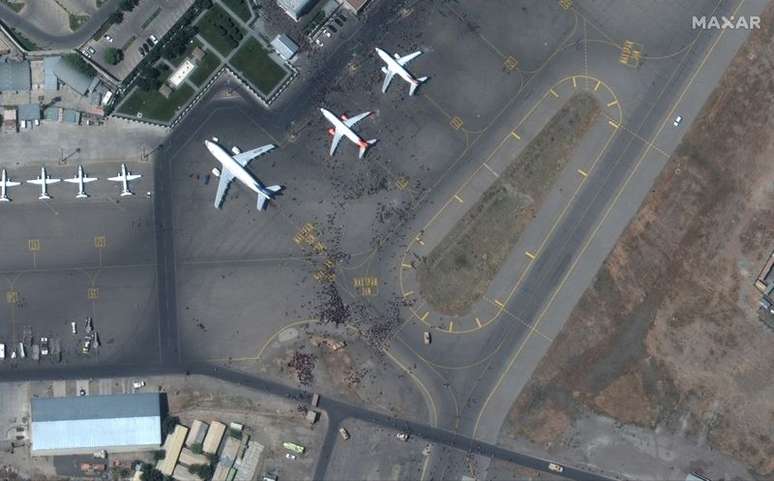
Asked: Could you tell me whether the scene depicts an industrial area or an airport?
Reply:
airport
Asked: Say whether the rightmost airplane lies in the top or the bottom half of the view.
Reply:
top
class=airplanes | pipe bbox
[27,168,60,197]
[205,140,284,210]
[321,109,376,155]
[375,48,429,95]
[64,166,98,195]
[0,169,21,199]
[107,163,141,194]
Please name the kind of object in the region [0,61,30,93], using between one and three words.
building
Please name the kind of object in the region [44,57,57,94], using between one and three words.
building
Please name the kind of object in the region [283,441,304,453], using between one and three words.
vehicle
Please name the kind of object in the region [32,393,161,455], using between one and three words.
hangar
